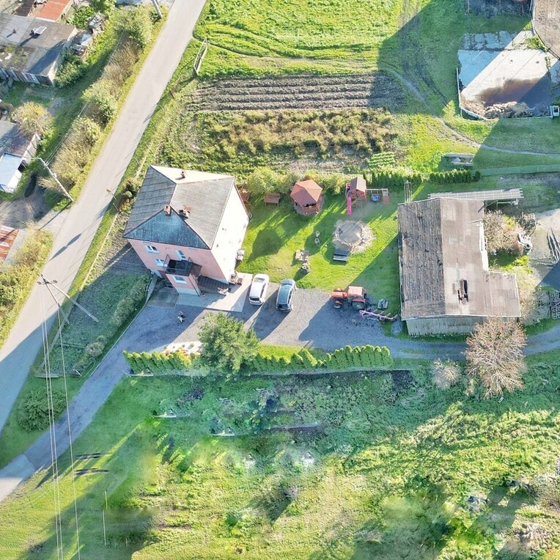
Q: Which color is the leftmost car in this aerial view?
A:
white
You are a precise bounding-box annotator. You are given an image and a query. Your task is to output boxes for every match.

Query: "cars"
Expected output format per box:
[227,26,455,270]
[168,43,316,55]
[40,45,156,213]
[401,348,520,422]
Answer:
[246,276,267,305]
[274,281,295,311]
